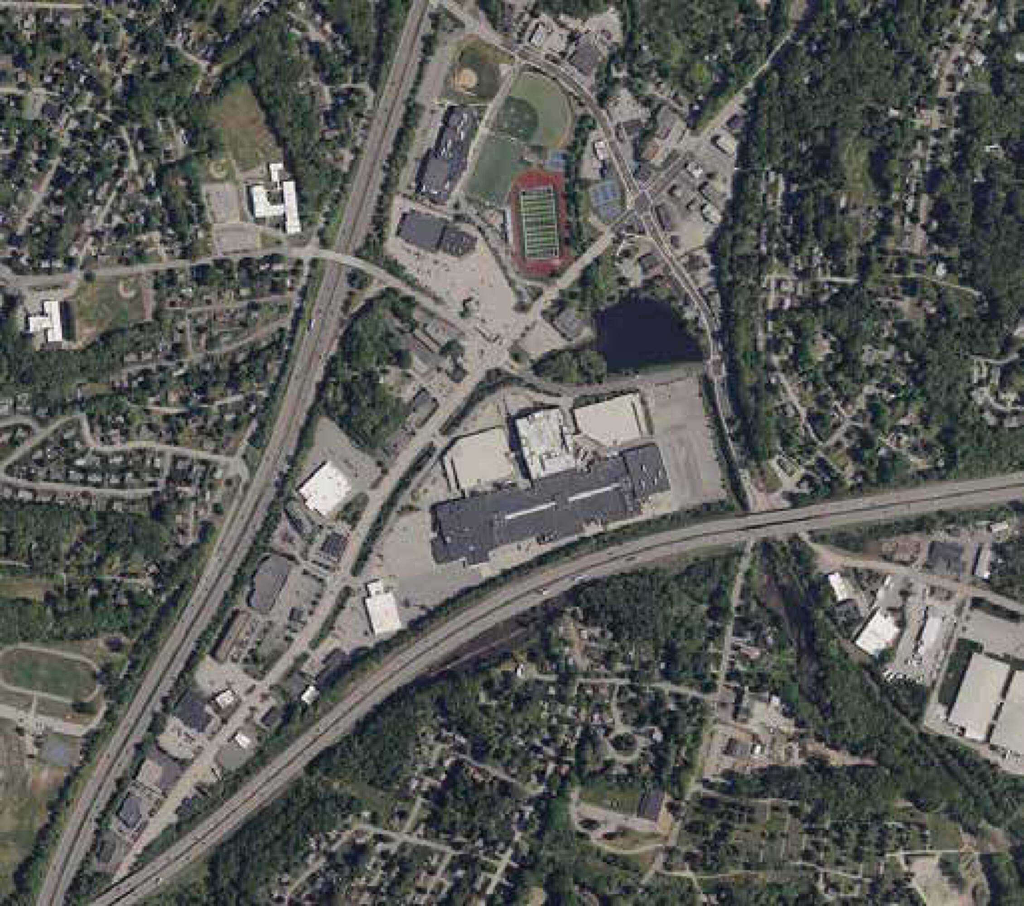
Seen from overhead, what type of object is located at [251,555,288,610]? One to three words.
building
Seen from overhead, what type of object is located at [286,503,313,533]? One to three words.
building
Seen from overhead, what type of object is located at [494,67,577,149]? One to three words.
baseball field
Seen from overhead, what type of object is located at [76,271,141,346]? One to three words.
sports field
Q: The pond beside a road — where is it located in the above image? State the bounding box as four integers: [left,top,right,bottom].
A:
[592,291,704,371]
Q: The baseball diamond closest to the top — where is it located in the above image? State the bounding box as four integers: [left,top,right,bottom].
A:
[442,36,514,105]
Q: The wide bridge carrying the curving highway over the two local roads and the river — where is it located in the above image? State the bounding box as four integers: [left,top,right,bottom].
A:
[743,508,800,538]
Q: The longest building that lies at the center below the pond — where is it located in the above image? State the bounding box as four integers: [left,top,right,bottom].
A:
[431,452,640,564]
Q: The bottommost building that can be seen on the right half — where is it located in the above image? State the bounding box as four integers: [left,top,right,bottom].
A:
[638,791,665,817]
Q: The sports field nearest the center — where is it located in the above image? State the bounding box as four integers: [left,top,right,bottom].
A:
[517,184,562,259]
